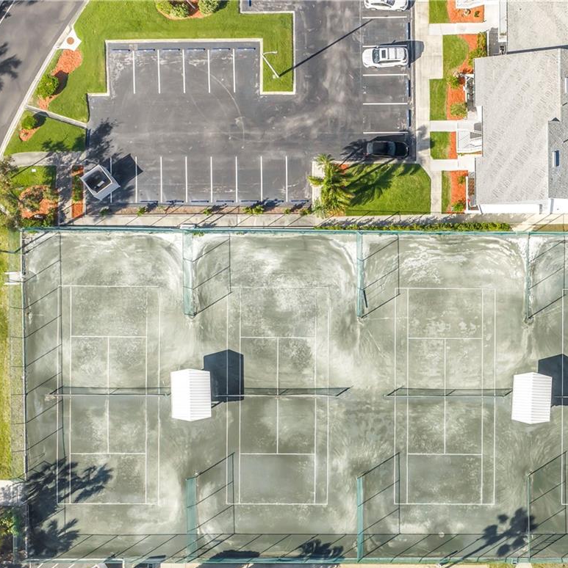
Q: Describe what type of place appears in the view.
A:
sports ground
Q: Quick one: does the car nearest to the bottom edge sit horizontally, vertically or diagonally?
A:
horizontally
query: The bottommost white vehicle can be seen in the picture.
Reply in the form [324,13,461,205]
[363,45,409,68]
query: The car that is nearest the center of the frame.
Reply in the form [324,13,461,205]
[365,139,411,161]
